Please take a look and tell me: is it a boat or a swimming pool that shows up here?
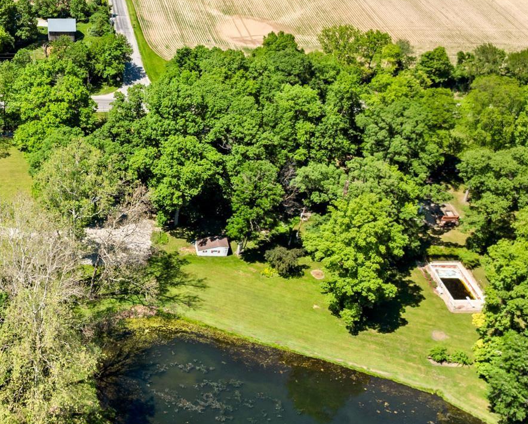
swimming pool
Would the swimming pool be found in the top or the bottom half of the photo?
bottom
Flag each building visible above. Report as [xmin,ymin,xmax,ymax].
[195,234,231,256]
[48,18,76,41]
